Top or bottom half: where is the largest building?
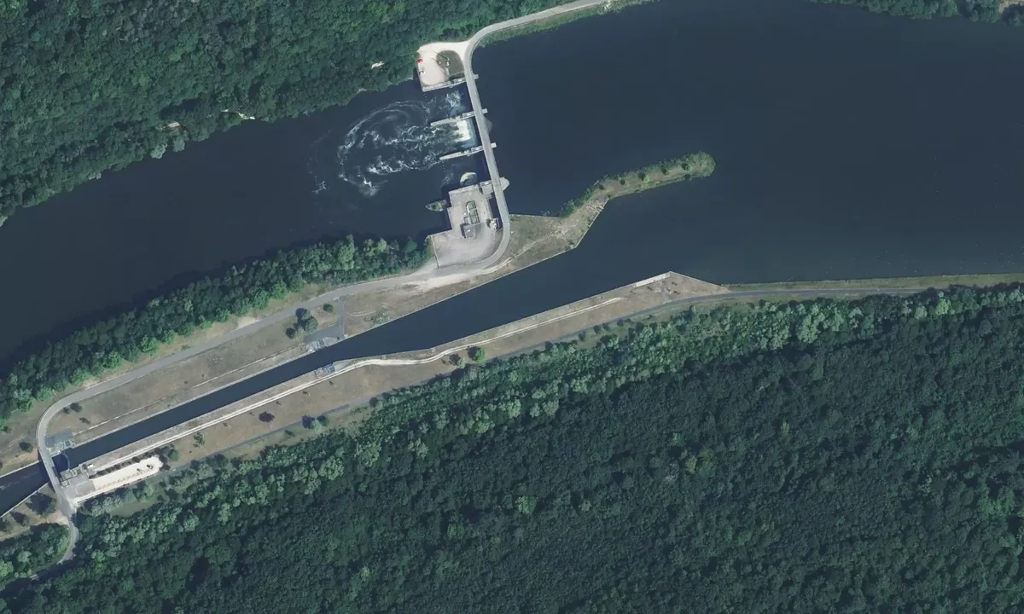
top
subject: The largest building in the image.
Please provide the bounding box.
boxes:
[447,180,494,231]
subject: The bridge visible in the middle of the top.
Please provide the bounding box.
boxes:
[464,70,511,235]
